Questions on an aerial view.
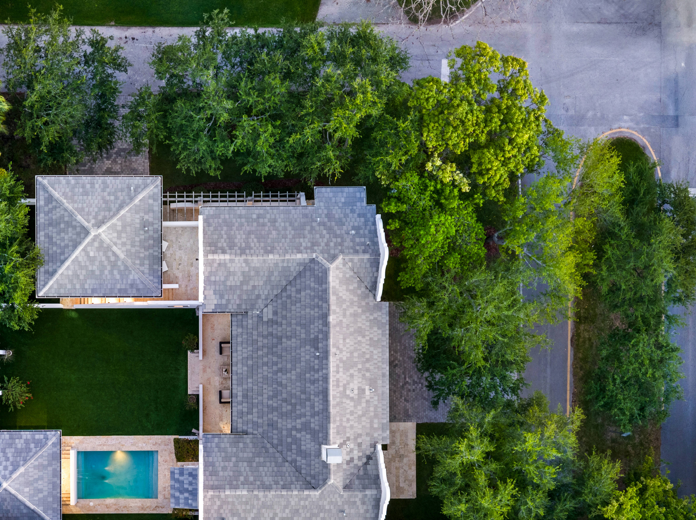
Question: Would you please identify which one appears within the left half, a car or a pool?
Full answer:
The one visible within the left half is a pool.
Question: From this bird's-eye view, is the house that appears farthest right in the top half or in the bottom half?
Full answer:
The house that appears farthest right is in the bottom half of the image.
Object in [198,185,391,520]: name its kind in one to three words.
house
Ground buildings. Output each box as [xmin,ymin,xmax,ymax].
[36,175,161,296]
[0,430,61,520]
[198,185,391,520]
